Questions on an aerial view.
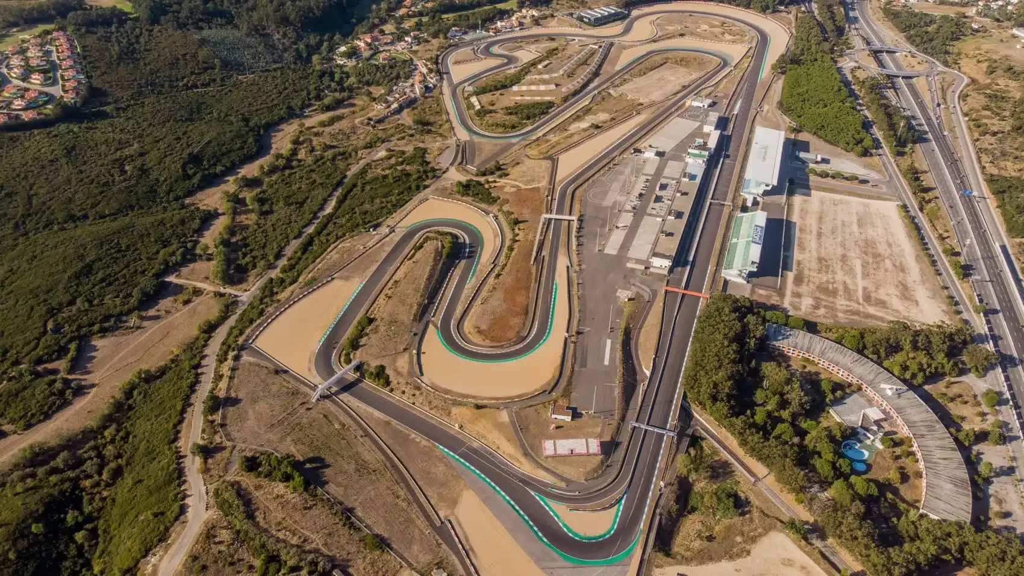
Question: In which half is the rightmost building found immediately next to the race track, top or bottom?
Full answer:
The rightmost building found immediately next to the race track sits in the bottom half of the picture.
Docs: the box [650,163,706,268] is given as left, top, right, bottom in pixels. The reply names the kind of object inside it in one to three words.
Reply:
building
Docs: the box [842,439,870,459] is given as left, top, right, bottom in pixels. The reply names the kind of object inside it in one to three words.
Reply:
swimming pool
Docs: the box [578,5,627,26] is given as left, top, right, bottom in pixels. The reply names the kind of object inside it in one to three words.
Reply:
shed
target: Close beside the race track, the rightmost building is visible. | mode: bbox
[765,323,972,531]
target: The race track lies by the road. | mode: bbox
[315,10,769,560]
